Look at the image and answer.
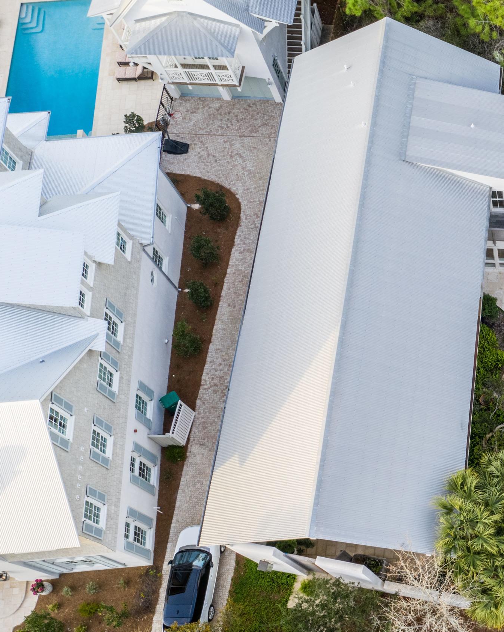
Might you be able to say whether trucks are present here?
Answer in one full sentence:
No, the scene contains no truck.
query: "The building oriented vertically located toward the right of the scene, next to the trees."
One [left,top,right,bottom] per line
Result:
[197,17,504,559]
